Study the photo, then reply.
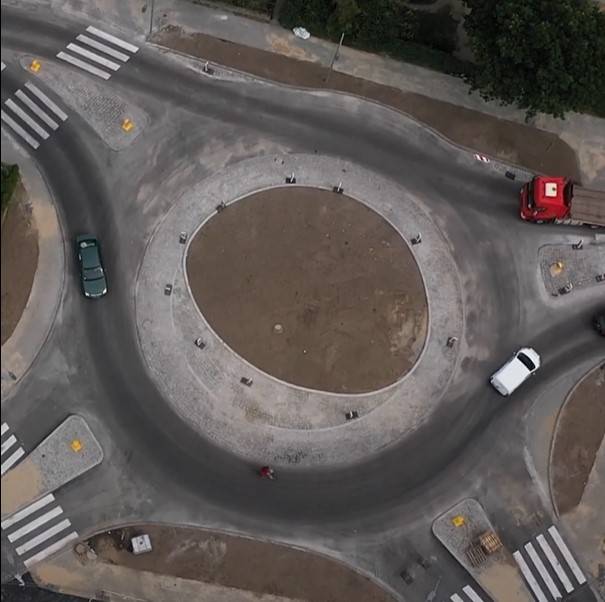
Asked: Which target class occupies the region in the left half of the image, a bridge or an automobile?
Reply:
automobile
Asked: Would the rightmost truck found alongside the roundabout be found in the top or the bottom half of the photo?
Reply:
top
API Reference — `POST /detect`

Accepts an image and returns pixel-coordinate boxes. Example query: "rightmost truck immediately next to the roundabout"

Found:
[522,173,605,226]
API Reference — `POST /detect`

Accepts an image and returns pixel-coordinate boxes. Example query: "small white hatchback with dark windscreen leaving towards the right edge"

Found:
[490,349,539,398]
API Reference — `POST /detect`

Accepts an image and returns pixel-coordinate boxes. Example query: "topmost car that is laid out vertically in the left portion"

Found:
[75,234,108,300]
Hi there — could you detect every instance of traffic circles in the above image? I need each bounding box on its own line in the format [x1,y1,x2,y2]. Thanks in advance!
[56,80,541,552]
